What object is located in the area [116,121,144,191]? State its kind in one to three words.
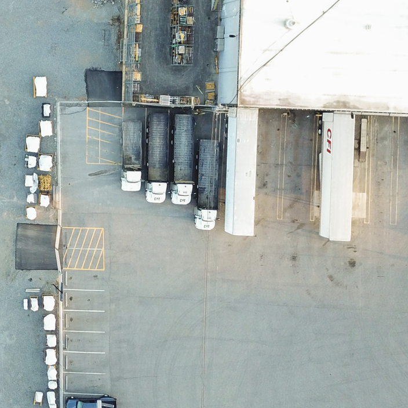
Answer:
truck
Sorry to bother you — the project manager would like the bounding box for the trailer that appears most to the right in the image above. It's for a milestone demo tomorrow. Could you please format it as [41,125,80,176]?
[316,115,356,239]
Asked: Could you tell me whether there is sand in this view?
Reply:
No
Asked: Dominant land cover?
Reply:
paved ground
